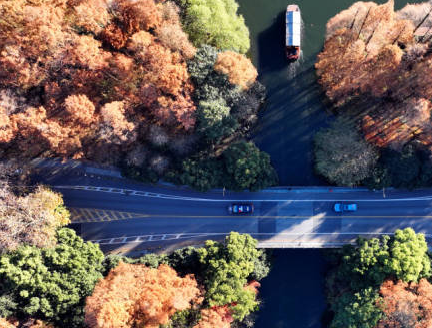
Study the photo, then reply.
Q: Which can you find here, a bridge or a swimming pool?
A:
bridge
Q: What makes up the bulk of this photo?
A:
trees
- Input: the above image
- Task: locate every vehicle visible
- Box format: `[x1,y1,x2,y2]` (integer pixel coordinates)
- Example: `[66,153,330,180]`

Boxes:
[334,201,357,213]
[229,203,254,215]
